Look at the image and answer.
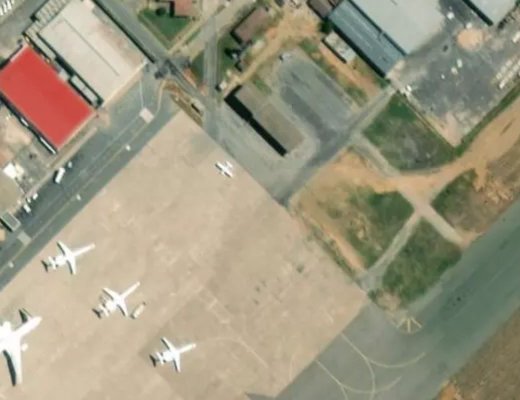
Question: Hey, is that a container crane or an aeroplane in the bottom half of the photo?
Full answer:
Visible in the bottom half of the photo is an aeroplane.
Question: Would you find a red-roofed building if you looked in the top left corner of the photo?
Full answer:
Yes, a red-roofed building is visible in the top left corner of the photo.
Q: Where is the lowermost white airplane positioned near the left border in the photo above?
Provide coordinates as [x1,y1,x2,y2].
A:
[0,316,42,383]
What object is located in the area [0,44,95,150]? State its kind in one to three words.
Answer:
building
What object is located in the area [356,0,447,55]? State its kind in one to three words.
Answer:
building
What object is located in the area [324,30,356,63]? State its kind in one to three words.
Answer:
shed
